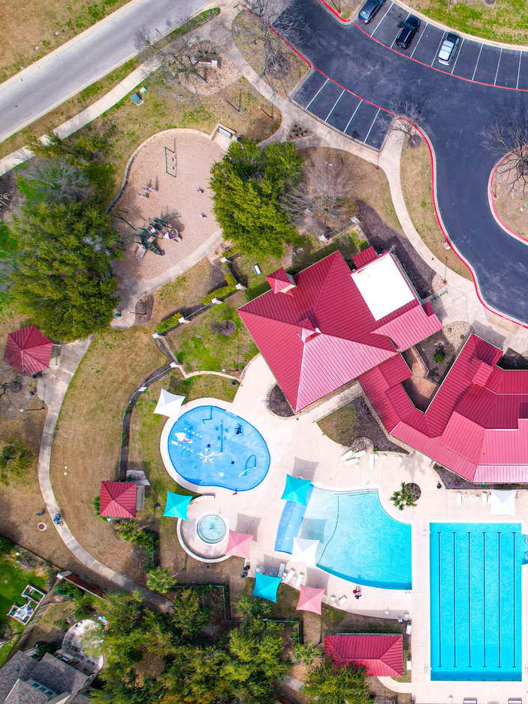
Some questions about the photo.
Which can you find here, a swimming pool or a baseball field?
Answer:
swimming pool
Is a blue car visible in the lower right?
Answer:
No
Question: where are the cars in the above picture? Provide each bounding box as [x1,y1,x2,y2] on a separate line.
[439,33,459,69]
[394,14,420,49]
[357,0,385,26]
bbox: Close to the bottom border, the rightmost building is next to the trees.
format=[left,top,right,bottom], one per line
[324,635,404,677]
